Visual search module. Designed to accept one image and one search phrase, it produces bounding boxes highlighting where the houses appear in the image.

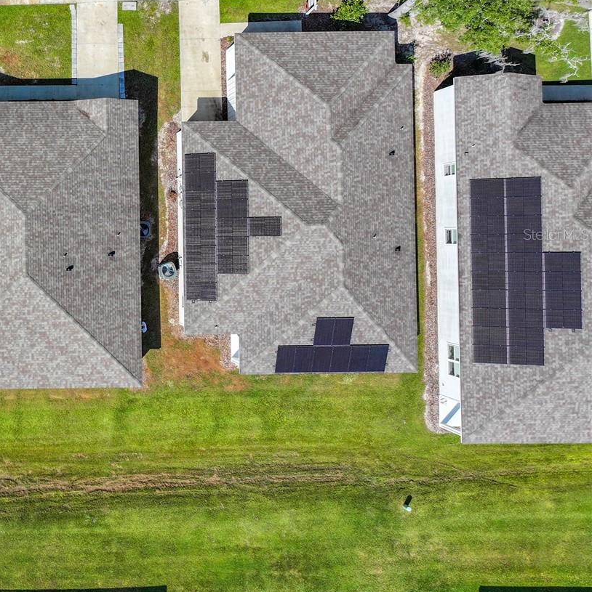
[0,98,143,389]
[178,30,418,376]
[437,75,592,447]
